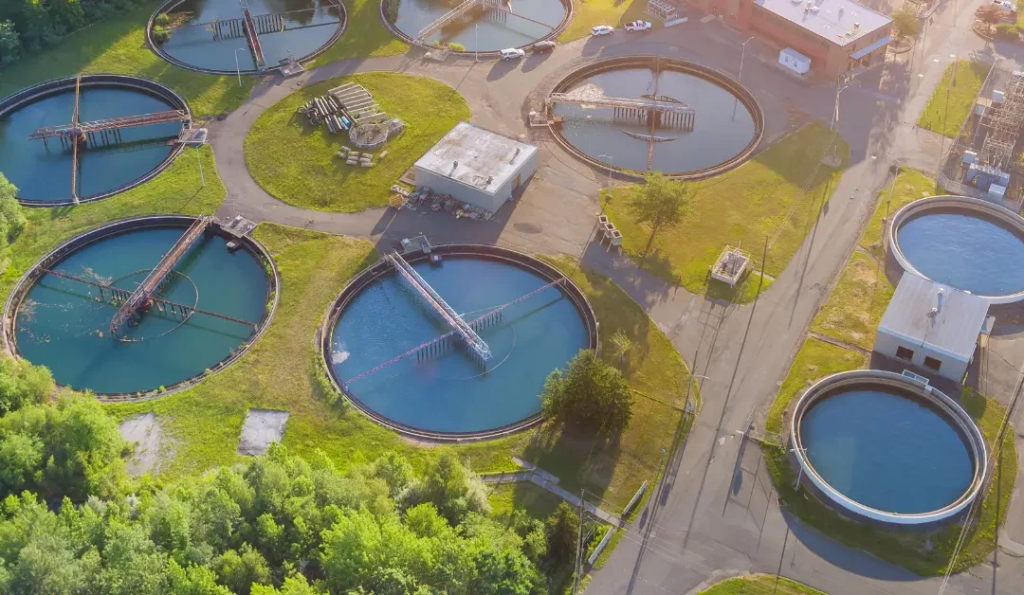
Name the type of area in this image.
industrial area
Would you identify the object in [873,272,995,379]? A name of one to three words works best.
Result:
shed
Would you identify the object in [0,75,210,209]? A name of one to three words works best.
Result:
storage tank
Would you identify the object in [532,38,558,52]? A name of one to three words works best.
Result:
car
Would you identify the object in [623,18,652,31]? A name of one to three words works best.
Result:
vehicle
